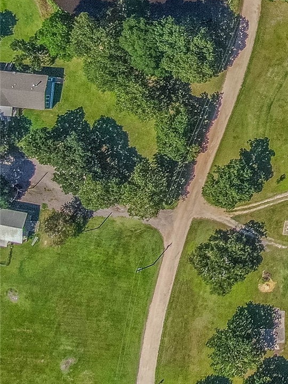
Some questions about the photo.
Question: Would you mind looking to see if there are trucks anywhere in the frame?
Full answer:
No, the scene contains no truck.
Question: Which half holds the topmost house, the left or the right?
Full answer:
The topmost house appears in the left half of the scene.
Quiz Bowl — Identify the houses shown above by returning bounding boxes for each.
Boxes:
[0,211,33,245]
[0,71,63,110]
